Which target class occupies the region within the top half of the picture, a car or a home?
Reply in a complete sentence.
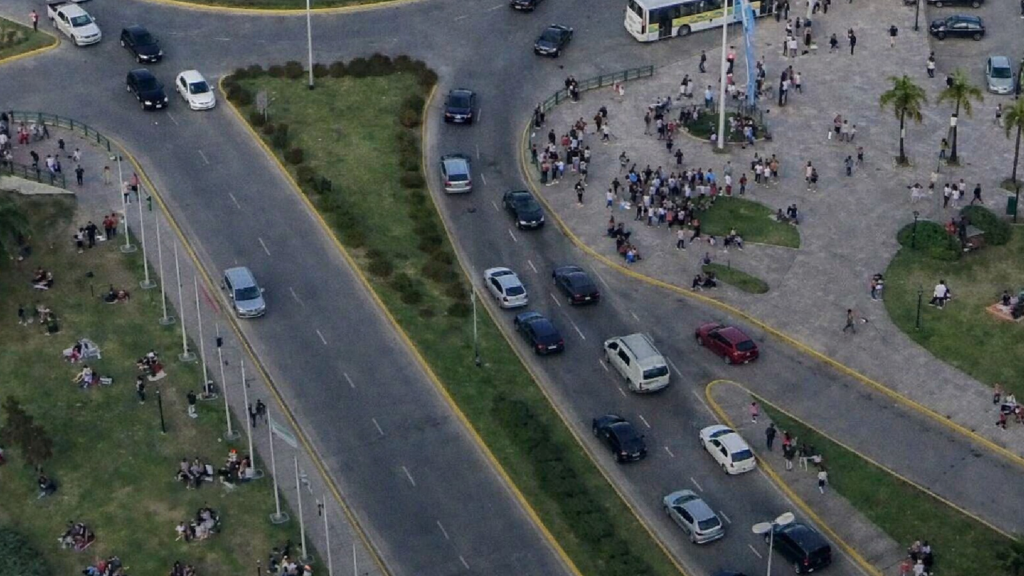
There is a car within the top half of the picture.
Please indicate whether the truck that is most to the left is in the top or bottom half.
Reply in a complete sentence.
The truck that is most to the left sits in the top half of the picture.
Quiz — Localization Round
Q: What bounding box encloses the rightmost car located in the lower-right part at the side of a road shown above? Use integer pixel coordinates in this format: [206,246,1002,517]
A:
[756,506,831,570]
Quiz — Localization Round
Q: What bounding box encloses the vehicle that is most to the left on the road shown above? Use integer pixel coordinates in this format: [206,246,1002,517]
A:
[45,0,99,42]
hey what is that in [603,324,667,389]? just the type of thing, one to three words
van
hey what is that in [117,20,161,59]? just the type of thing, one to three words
car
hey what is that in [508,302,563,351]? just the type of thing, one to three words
car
